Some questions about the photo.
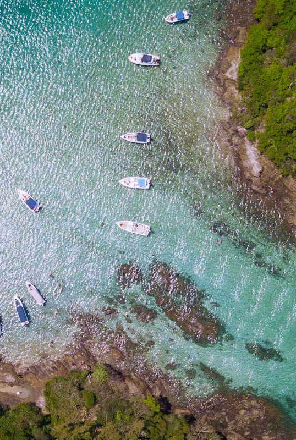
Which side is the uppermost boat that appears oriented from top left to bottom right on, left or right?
left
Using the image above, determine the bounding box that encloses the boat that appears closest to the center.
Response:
[117,220,154,239]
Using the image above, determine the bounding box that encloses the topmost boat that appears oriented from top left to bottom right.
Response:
[18,188,43,216]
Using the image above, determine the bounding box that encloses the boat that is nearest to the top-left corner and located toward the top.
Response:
[129,53,162,67]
